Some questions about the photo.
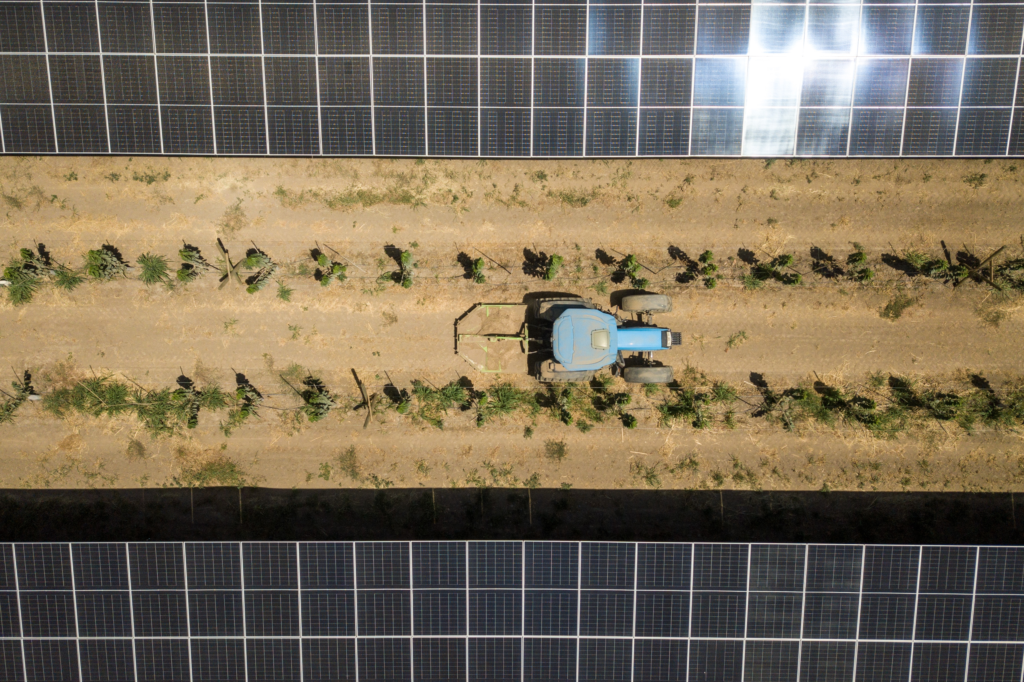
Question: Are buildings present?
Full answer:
No, this view has no building in it.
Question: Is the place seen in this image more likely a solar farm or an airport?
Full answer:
The area seen from above is a solar farm.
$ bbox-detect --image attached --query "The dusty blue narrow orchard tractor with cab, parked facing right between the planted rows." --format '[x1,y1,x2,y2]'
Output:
[527,295,681,383]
